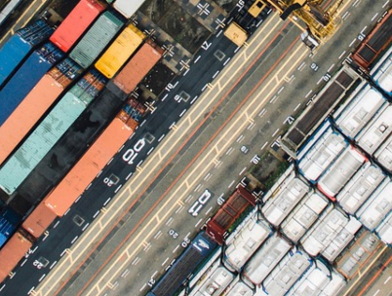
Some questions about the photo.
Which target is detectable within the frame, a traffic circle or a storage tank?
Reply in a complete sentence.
The image shows a storage tank.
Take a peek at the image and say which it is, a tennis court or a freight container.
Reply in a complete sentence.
Looking from above, you can make out a freight container.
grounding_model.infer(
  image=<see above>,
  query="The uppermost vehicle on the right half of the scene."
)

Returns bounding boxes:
[226,0,272,43]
